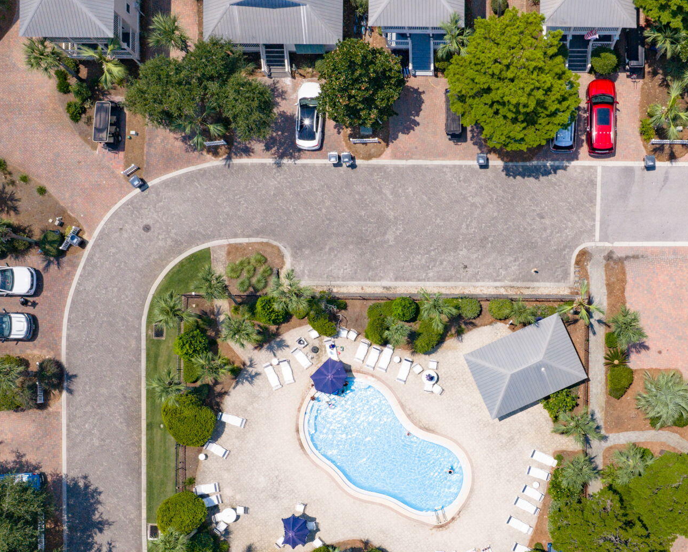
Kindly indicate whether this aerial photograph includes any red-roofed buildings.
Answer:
No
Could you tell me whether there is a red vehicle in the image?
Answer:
Yes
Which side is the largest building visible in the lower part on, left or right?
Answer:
right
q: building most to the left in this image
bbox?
[18,0,138,57]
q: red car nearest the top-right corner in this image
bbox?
[584,82,619,156]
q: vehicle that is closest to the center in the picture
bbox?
[291,82,325,150]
